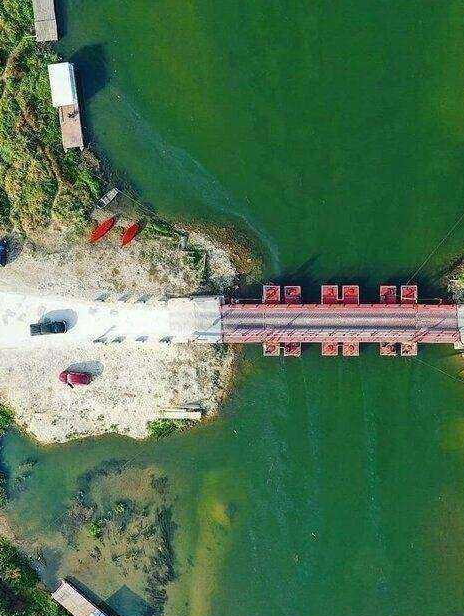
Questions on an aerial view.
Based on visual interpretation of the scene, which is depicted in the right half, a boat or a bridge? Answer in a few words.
bridge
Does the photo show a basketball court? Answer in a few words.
No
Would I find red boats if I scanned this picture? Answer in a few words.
Yes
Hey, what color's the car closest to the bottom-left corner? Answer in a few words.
red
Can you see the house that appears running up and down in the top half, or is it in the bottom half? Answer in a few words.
top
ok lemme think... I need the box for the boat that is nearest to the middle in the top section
[122,222,140,245]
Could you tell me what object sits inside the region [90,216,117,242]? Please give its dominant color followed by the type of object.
red boat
